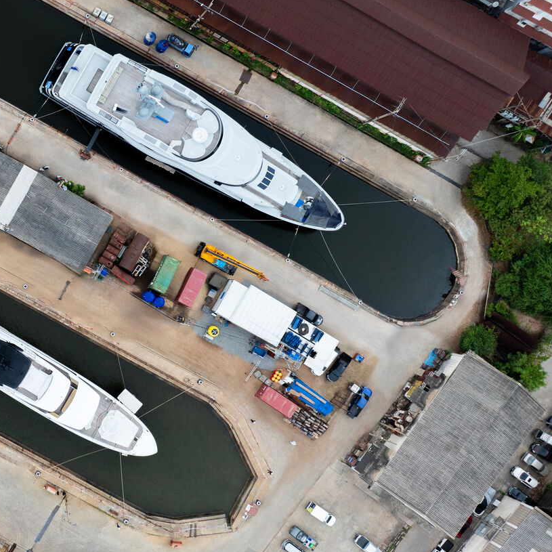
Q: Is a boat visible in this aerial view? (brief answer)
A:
Yes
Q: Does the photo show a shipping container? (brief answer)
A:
Yes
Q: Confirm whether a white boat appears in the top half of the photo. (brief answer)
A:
Yes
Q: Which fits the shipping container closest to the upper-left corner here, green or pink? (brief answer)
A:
green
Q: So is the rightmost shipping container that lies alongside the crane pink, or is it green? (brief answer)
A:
pink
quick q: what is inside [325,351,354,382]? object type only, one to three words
truck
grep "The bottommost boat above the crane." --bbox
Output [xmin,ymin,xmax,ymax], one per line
[39,41,347,231]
